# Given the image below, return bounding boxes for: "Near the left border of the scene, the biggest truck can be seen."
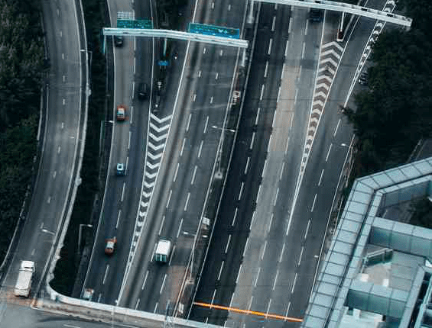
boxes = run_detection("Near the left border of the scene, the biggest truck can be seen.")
[13,255,35,293]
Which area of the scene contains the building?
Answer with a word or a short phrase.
bottom right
